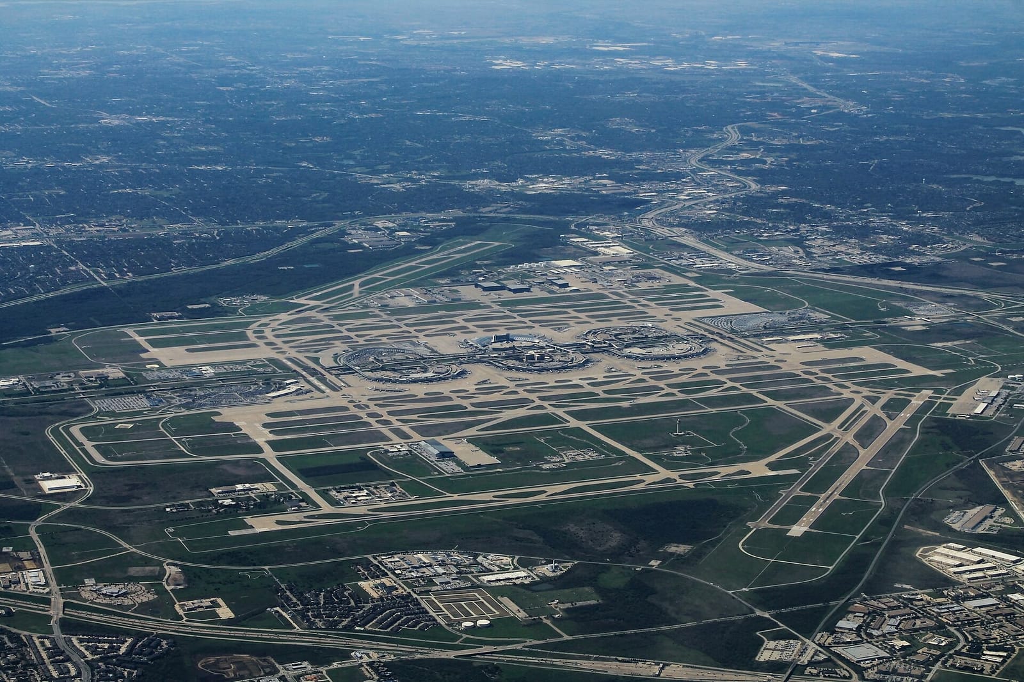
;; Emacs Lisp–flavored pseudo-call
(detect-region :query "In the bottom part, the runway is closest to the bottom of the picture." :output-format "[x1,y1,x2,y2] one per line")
[255,474,772,530]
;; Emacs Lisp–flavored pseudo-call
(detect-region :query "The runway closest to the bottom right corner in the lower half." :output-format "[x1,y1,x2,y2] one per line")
[794,389,928,529]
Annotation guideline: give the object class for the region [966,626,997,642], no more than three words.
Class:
building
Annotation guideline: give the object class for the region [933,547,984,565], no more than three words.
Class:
building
